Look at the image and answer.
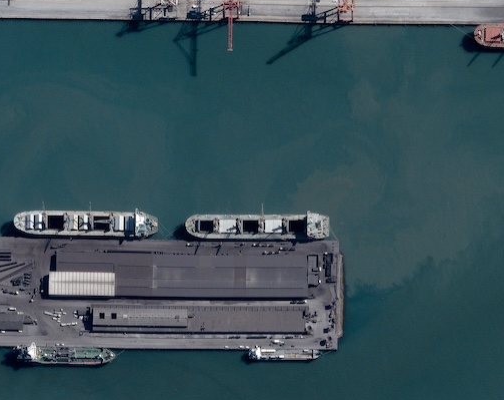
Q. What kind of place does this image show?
port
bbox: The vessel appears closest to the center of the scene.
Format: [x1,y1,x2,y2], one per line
[173,202,338,242]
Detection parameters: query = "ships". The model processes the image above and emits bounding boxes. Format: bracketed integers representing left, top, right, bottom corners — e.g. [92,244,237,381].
[473,23,504,50]
[2,202,168,238]
[242,346,329,360]
[173,202,338,242]
[7,344,123,365]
